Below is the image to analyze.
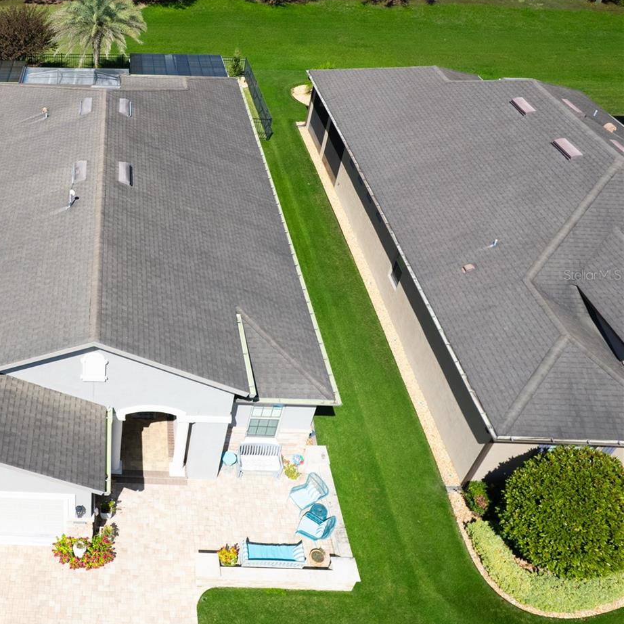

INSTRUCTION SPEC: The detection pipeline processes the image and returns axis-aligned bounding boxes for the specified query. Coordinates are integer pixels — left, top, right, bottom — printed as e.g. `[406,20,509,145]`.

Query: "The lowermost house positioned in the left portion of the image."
[0,77,341,550]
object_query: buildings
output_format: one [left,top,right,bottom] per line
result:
[310,68,624,484]
[0,77,341,550]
